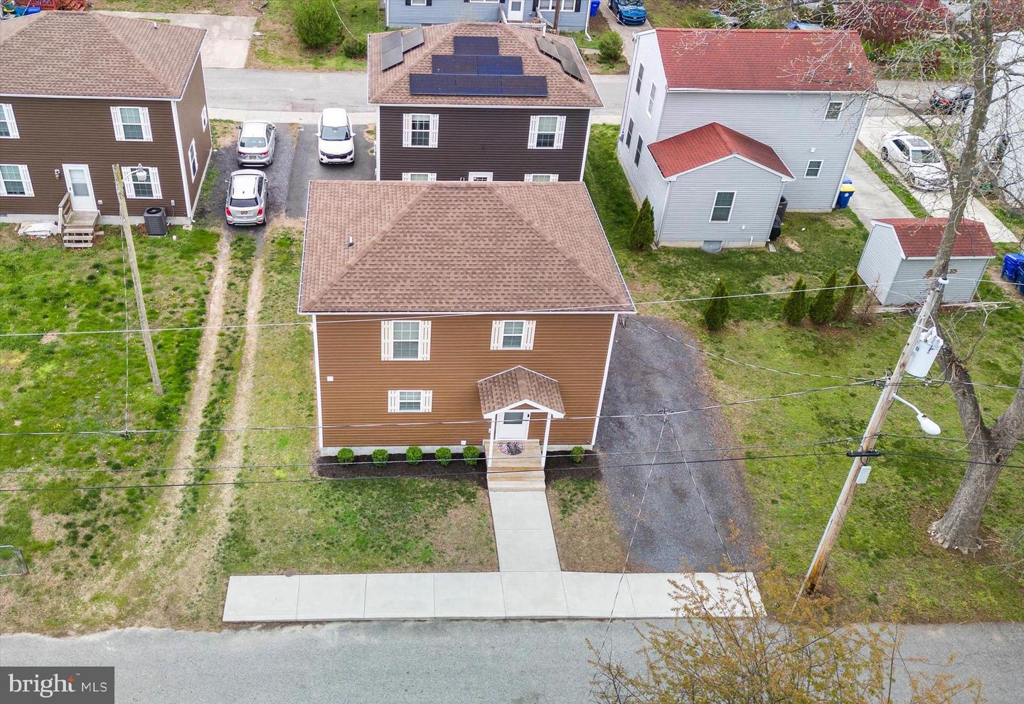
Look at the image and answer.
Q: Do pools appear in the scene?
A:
No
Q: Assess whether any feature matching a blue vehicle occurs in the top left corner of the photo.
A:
No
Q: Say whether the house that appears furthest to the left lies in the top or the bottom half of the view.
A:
top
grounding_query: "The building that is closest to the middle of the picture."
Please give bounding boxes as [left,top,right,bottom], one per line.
[298,178,633,491]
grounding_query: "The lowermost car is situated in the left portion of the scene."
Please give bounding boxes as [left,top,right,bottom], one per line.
[226,164,274,218]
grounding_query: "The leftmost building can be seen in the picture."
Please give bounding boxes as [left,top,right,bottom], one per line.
[0,9,211,226]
